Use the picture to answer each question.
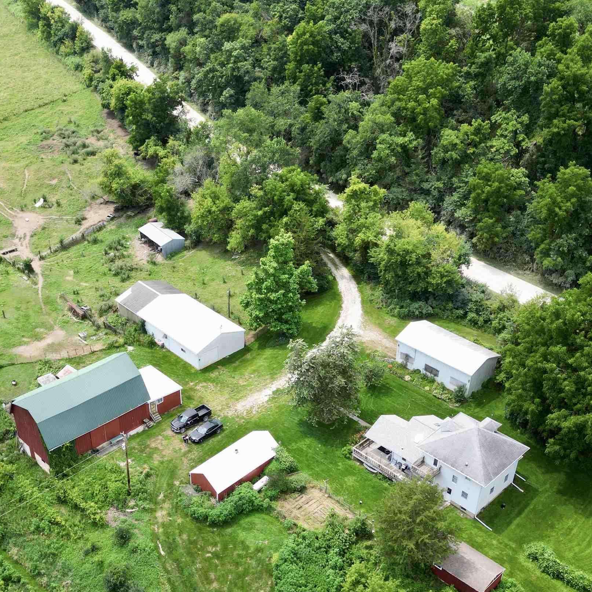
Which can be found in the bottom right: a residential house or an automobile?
residential house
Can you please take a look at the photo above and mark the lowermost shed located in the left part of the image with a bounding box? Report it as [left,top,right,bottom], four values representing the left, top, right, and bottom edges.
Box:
[189,430,281,498]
